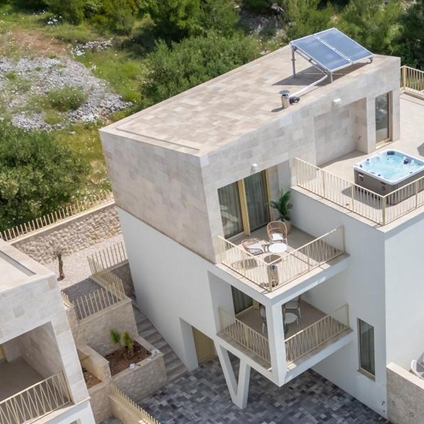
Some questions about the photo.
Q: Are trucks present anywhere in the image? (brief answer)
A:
No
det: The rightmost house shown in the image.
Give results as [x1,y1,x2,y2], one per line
[100,47,424,419]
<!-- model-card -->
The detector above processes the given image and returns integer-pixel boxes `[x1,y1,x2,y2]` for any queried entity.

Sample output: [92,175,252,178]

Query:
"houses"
[100,47,424,419]
[0,238,97,424]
